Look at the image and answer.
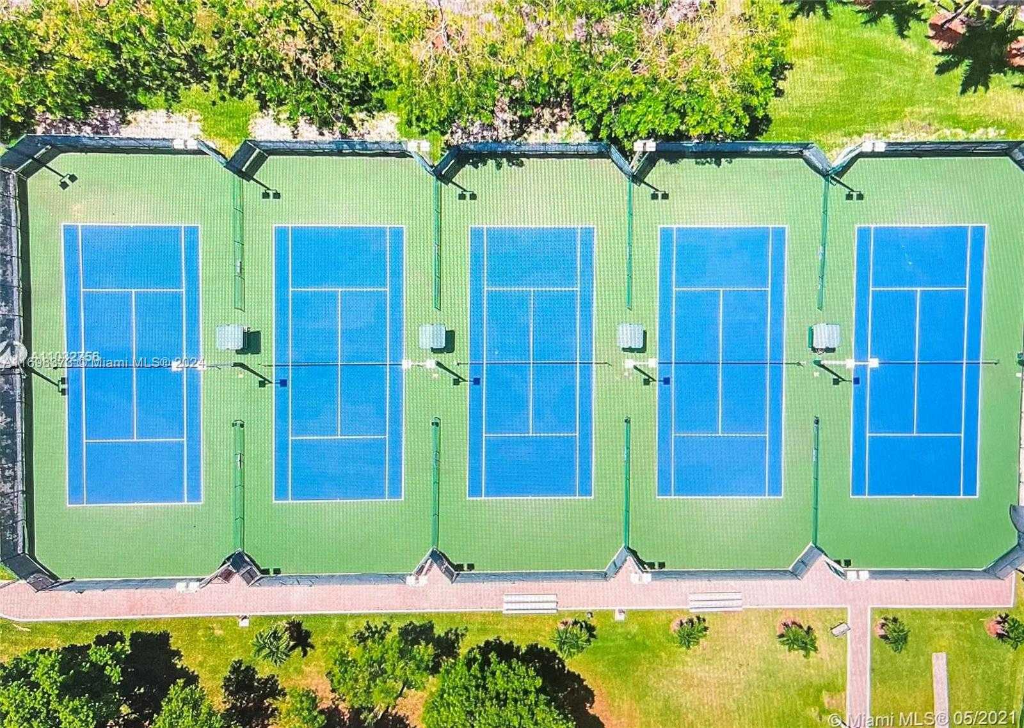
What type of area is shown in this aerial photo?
sports ground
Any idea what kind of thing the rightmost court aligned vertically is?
tennis court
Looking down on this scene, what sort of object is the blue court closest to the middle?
tennis court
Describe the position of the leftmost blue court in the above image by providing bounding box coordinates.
[62,223,203,507]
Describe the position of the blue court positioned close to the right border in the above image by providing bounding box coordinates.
[851,223,988,498]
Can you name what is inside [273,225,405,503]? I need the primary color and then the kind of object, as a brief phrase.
blue tennis court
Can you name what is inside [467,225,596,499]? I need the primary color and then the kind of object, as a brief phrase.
blue tennis court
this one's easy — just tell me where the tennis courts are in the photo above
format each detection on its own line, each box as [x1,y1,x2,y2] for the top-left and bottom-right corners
[657,225,788,498]
[467,225,596,499]
[62,223,203,507]
[851,223,988,498]
[273,225,405,503]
